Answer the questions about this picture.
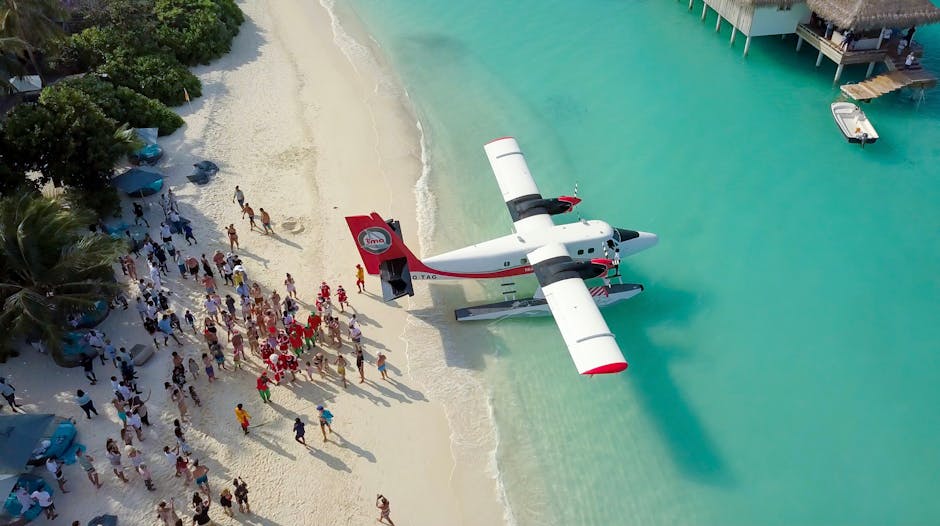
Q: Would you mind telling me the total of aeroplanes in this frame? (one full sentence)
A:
In total, there is 1 aeroplane in the scene.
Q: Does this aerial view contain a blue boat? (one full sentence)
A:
No, I find no blue boat anywhere in the image.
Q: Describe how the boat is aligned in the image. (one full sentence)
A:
I'd say the boat is aligned at an angle in the picture.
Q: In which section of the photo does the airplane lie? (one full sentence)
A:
The airplane sits in the center section of the image.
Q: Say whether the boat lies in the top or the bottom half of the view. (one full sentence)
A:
The top half of the photo is where the boat is.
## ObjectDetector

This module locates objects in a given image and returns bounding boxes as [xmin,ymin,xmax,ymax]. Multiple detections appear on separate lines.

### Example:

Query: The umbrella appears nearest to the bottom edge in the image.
[0,408,58,476]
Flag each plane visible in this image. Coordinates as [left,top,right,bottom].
[345,137,658,373]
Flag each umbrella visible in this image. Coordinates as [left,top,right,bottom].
[107,167,168,211]
[0,408,58,476]
[135,129,169,164]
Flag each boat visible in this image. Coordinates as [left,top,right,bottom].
[832,98,879,147]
